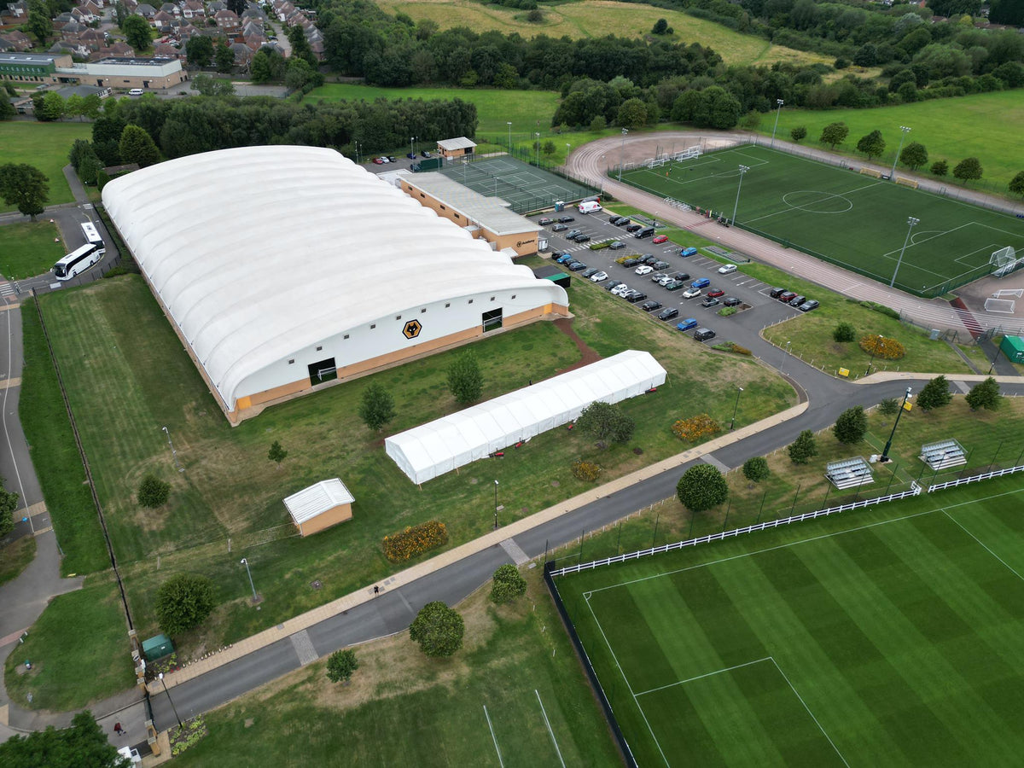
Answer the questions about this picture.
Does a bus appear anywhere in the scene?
Yes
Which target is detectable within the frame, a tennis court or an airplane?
tennis court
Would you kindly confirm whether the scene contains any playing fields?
Yes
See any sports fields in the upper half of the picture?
Yes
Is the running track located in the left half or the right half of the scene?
right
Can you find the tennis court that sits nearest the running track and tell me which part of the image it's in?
top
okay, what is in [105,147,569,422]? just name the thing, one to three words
building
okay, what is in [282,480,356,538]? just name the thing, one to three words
shed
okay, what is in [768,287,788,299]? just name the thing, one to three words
vehicle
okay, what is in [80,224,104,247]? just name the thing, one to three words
bus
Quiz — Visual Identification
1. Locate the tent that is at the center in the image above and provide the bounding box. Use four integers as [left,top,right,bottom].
[388,350,676,489]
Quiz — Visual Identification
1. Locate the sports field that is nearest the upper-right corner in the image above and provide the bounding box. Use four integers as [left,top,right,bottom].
[606,141,1024,297]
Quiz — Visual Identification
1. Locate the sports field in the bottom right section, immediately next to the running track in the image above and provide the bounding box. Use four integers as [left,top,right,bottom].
[549,467,1024,768]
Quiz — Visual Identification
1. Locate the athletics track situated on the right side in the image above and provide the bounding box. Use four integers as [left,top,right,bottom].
[566,131,1024,337]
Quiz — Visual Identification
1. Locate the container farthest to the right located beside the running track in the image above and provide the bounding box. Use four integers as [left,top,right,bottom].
[980,332,1024,362]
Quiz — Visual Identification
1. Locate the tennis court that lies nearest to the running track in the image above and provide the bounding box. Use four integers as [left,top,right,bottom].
[410,154,596,214]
